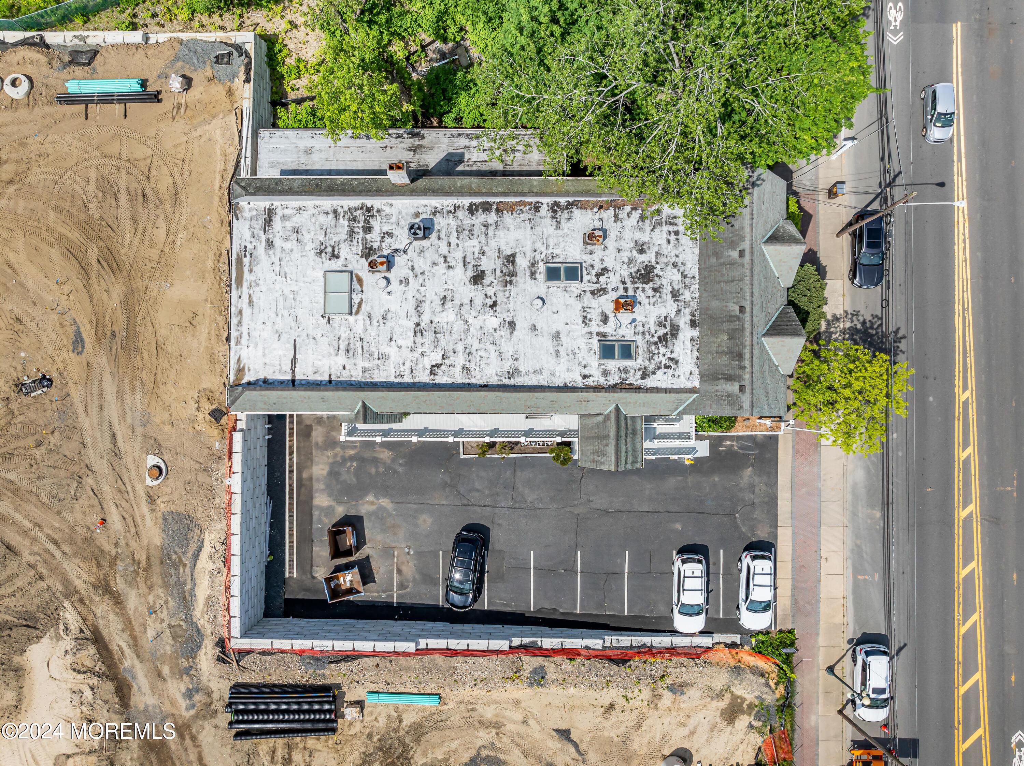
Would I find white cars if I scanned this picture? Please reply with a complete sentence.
Yes, there is a white car in the image.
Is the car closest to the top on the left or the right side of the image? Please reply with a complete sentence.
The car closest to the top is on the right side of the image.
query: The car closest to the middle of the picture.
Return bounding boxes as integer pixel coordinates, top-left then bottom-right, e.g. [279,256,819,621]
[441,529,485,613]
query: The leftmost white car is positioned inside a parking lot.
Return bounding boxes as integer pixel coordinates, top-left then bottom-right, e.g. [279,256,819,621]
[670,549,711,632]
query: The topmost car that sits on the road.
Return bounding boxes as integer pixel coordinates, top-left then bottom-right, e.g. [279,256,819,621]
[915,80,960,147]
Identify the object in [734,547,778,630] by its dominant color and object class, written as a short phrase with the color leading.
white car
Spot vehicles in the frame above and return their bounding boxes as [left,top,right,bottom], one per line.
[734,547,778,630]
[846,639,895,723]
[670,549,711,632]
[441,529,485,613]
[915,80,960,147]
[843,211,889,291]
